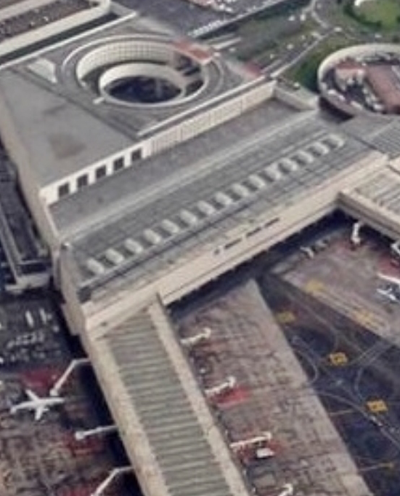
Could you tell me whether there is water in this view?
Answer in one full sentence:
No, water can't be seen anywhere here.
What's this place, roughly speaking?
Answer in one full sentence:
This image shows an airport.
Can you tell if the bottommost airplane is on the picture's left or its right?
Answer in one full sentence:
The bottommost airplane sits on the left side.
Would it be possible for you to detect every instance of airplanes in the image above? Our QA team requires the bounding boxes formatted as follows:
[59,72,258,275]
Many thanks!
[8,395,65,422]
[377,275,400,301]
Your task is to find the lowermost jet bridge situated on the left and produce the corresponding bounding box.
[91,464,134,496]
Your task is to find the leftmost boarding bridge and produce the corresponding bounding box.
[51,356,91,396]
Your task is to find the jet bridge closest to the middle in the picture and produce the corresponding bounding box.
[181,329,212,347]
